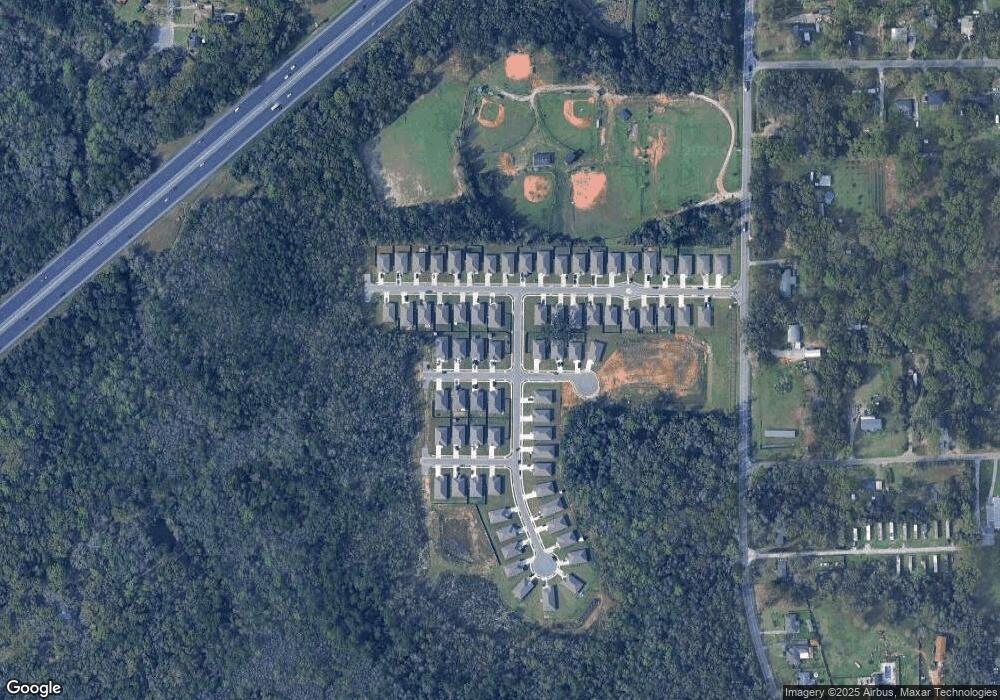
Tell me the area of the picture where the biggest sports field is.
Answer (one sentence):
The biggest sports field is in the top part of the image.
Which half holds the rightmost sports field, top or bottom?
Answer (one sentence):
You can find the rightmost sports field in the top half.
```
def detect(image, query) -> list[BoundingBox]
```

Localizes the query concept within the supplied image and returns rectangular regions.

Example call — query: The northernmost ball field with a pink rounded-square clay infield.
[493,51,535,94]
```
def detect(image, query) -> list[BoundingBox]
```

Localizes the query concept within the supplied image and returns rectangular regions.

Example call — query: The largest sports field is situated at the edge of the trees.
[384,80,468,205]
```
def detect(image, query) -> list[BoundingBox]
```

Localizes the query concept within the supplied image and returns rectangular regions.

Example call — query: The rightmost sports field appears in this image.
[668,103,728,197]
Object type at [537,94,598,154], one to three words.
baseball field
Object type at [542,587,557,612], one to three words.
house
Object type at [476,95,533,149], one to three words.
baseball field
